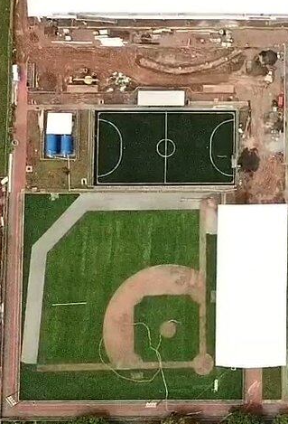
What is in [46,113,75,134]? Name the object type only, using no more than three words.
building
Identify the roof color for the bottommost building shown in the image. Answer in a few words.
white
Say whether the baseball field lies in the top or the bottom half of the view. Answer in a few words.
bottom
